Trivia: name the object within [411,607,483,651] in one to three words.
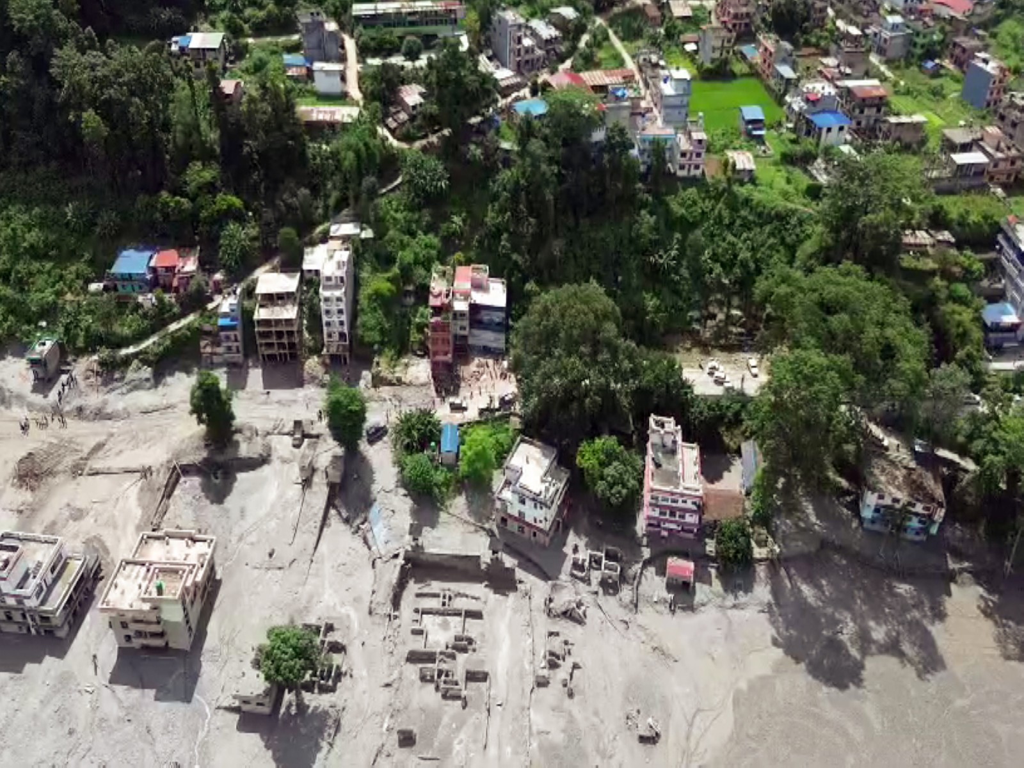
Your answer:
house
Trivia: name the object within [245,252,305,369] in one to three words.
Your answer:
building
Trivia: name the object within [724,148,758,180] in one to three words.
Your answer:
shed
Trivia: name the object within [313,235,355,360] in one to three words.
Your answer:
house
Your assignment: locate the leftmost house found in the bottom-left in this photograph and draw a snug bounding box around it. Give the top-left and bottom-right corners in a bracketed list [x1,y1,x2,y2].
[0,525,103,636]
